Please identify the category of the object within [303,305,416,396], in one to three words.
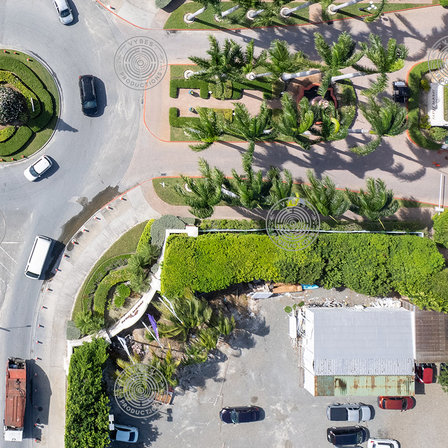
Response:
shed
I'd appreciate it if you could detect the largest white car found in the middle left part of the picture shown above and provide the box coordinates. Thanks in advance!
[23,234,52,280]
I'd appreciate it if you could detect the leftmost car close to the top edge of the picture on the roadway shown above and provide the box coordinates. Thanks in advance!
[52,0,73,26]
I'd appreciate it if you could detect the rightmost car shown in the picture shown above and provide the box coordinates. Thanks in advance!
[415,362,436,388]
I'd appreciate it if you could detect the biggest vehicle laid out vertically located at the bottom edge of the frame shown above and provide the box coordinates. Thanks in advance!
[4,360,27,446]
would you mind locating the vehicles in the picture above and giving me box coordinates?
[391,81,409,102]
[220,405,261,426]
[415,362,436,388]
[376,396,413,413]
[23,152,53,184]
[325,402,372,424]
[52,0,73,26]
[4,360,27,446]
[23,234,52,280]
[367,436,398,448]
[78,74,99,116]
[325,425,368,447]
